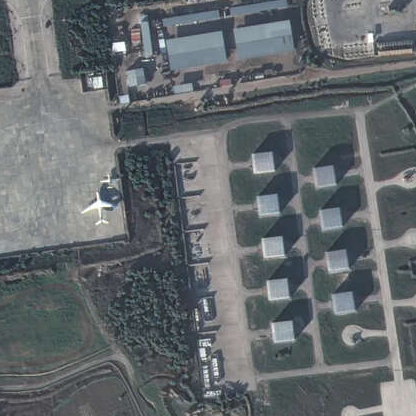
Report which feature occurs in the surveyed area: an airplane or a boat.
airplane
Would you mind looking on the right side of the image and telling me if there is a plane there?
No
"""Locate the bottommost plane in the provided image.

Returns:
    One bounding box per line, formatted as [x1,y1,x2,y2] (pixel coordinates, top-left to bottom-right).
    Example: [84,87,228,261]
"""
[81,191,119,223]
